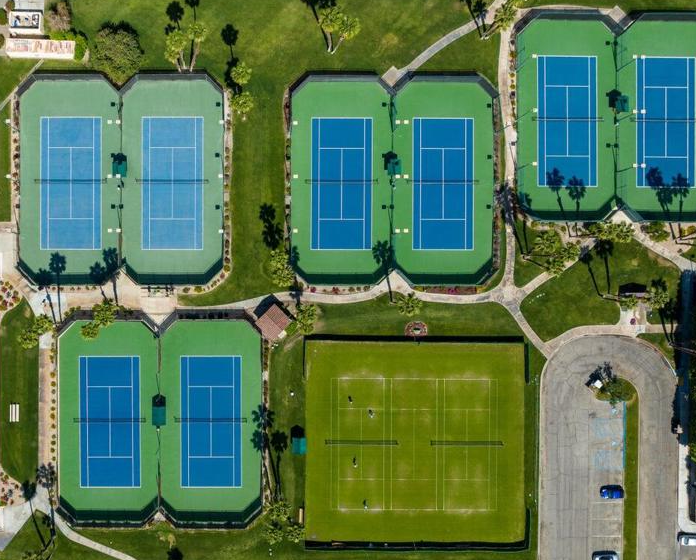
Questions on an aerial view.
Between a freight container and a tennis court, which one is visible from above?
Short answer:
tennis court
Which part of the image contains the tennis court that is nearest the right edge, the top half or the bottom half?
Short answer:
top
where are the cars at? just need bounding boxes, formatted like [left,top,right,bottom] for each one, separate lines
[681,535,696,547]
[601,487,625,500]
[593,553,620,560]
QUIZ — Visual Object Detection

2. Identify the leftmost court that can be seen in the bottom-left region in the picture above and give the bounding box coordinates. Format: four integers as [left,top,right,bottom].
[58,321,159,523]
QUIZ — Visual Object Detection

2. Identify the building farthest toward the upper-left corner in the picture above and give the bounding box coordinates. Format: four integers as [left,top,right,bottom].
[9,10,46,39]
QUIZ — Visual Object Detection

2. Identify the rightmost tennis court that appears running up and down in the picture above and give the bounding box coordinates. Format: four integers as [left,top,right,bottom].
[616,20,696,221]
